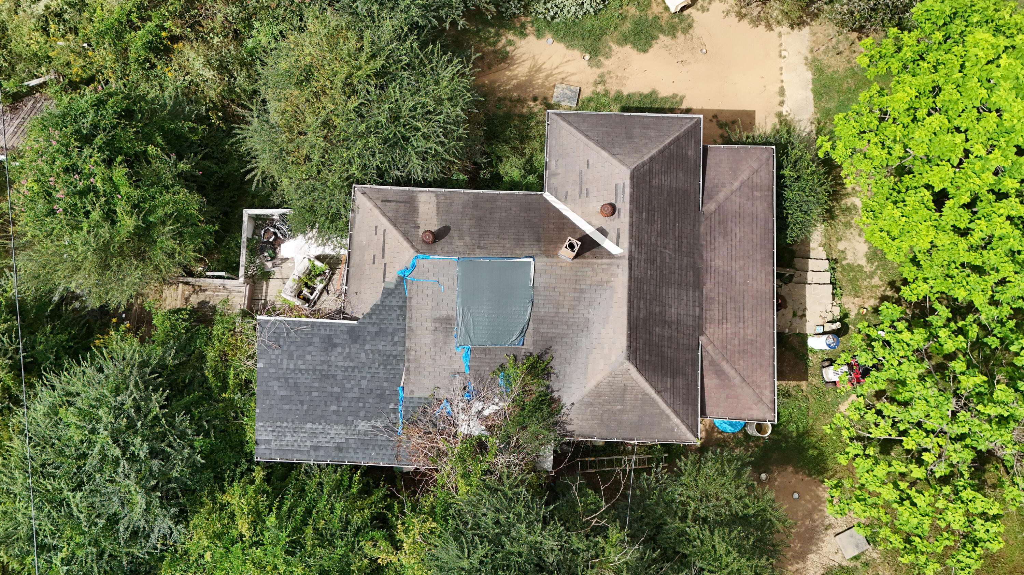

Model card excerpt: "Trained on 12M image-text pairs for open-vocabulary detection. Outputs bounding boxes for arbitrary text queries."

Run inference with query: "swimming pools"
[714,419,747,433]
